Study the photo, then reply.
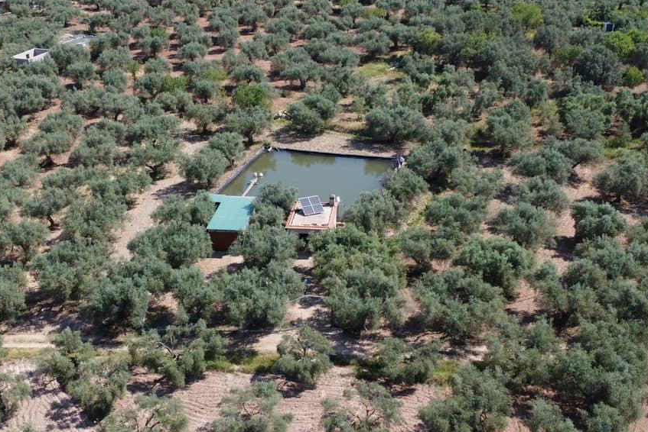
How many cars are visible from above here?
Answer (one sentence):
There are no cars in this view.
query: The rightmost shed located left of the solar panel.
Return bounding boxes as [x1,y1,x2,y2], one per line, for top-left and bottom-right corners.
[206,195,256,251]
